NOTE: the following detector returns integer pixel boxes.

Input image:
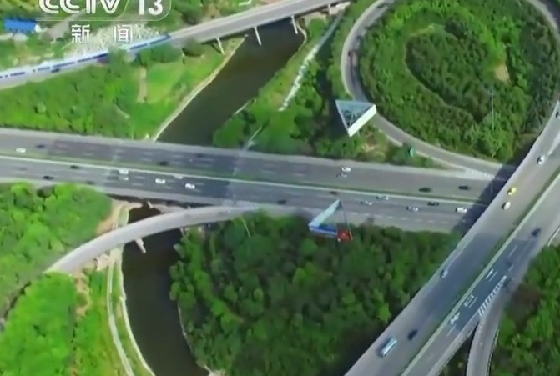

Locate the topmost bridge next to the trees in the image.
[142,0,333,53]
